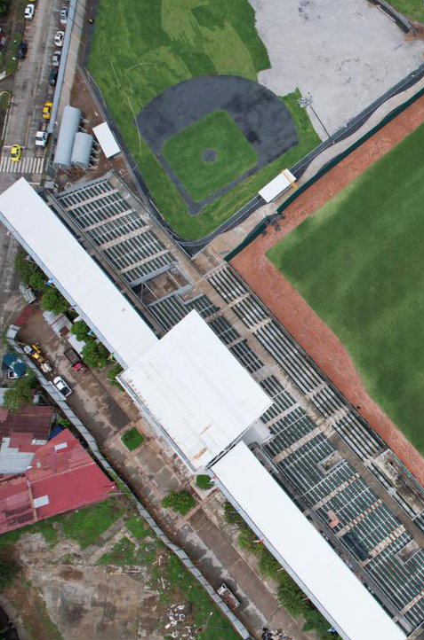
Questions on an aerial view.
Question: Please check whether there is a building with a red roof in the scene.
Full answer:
Yes, a building with a red roof appears in the view.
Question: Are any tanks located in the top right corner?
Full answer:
No, the scene shows no tank in the top right corner.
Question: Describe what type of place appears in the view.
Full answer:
This looks like a sports ground.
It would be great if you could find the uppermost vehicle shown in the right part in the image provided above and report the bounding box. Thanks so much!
[261,220,276,234]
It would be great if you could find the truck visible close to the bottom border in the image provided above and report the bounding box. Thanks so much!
[217,584,241,611]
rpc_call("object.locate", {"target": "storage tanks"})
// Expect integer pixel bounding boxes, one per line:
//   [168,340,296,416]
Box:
[72,130,100,169]
[53,103,90,169]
